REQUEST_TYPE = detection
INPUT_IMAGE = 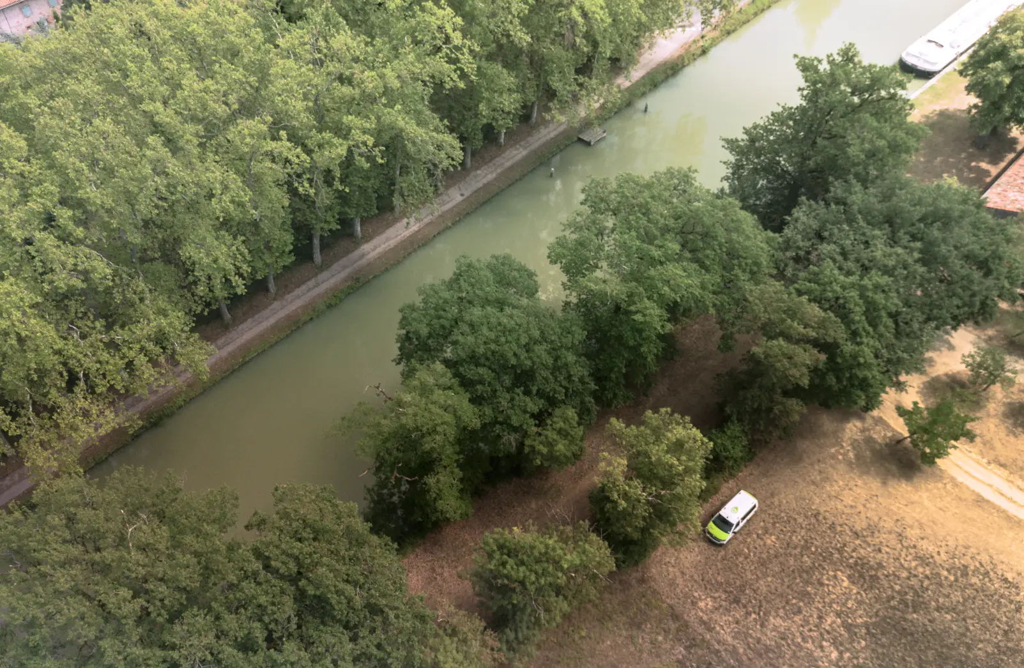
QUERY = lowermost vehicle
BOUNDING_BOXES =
[707,487,763,542]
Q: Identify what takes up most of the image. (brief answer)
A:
trees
